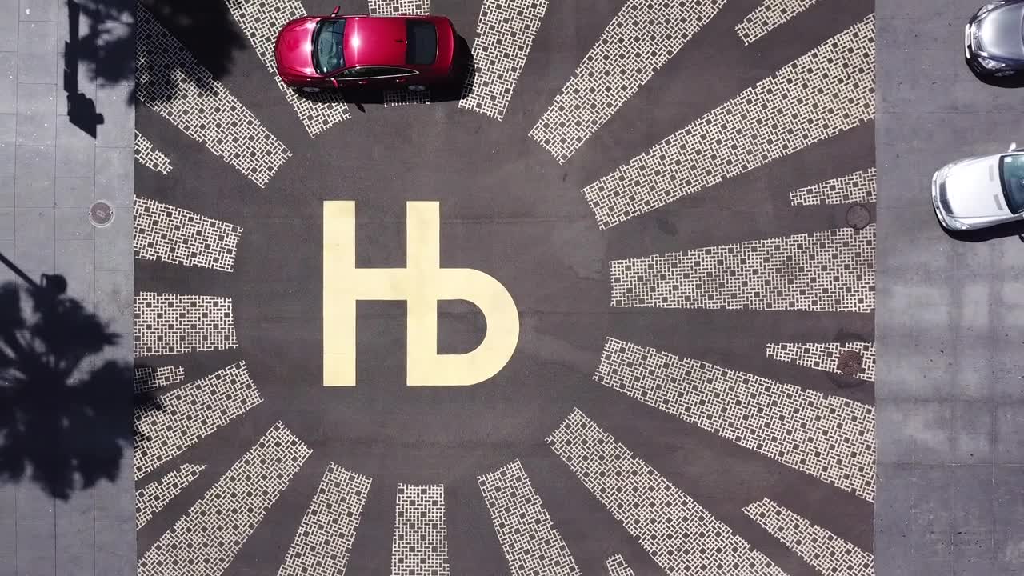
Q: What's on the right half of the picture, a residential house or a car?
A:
car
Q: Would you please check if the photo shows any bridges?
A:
No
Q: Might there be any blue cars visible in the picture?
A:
No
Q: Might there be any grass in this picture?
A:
No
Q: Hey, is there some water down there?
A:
No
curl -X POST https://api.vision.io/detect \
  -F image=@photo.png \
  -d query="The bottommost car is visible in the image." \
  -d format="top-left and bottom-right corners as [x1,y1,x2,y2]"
[931,138,1024,224]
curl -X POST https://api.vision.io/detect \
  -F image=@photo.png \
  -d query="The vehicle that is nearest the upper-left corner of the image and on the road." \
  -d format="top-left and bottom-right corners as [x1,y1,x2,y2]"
[274,4,456,91]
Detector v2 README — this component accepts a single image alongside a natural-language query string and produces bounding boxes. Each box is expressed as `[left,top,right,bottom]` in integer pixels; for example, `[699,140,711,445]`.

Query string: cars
[274,4,456,91]
[964,0,1024,69]
[931,138,1024,224]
